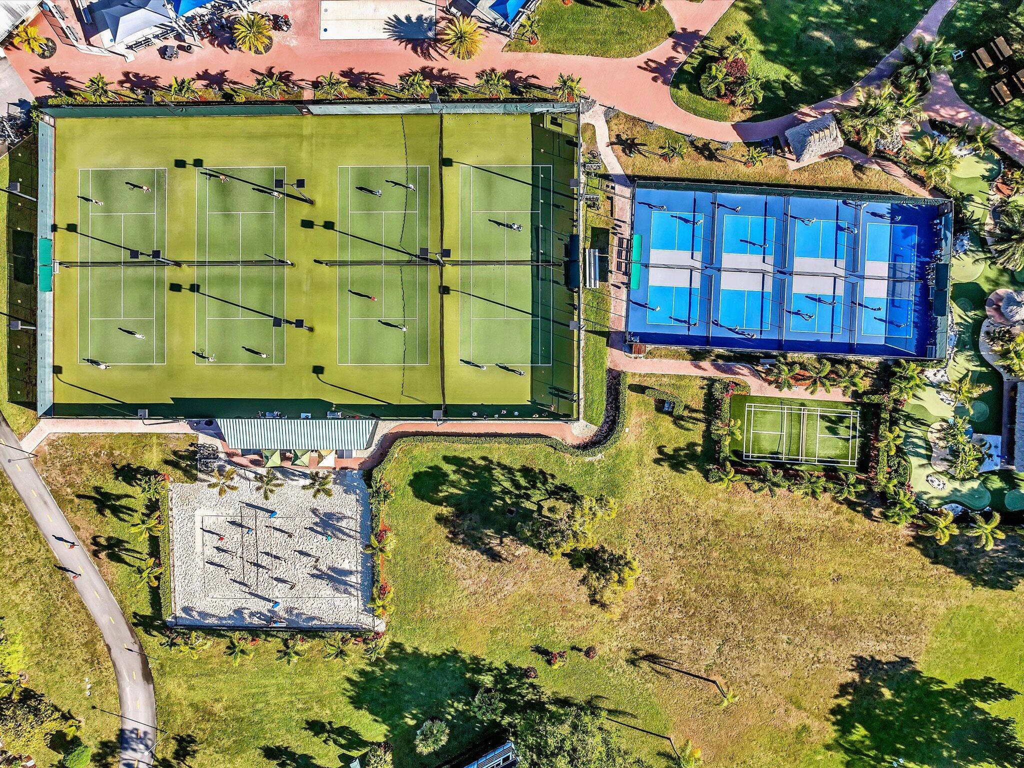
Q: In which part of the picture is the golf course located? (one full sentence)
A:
The golf course is in the right part of the image.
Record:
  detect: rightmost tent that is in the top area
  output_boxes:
[488,0,531,38]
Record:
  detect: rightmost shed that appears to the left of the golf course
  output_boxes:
[781,112,846,166]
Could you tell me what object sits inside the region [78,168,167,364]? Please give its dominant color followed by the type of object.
green tennis court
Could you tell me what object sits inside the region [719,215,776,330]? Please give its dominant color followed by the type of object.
blue sports court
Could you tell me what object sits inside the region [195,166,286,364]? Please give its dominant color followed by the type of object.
green tennis court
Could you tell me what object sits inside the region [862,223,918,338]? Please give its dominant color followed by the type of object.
blue sports court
